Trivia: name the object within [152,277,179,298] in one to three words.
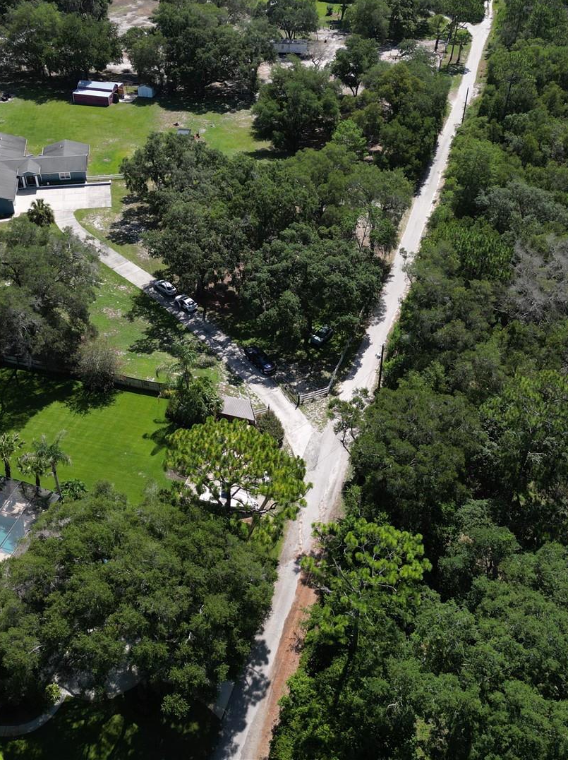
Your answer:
car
